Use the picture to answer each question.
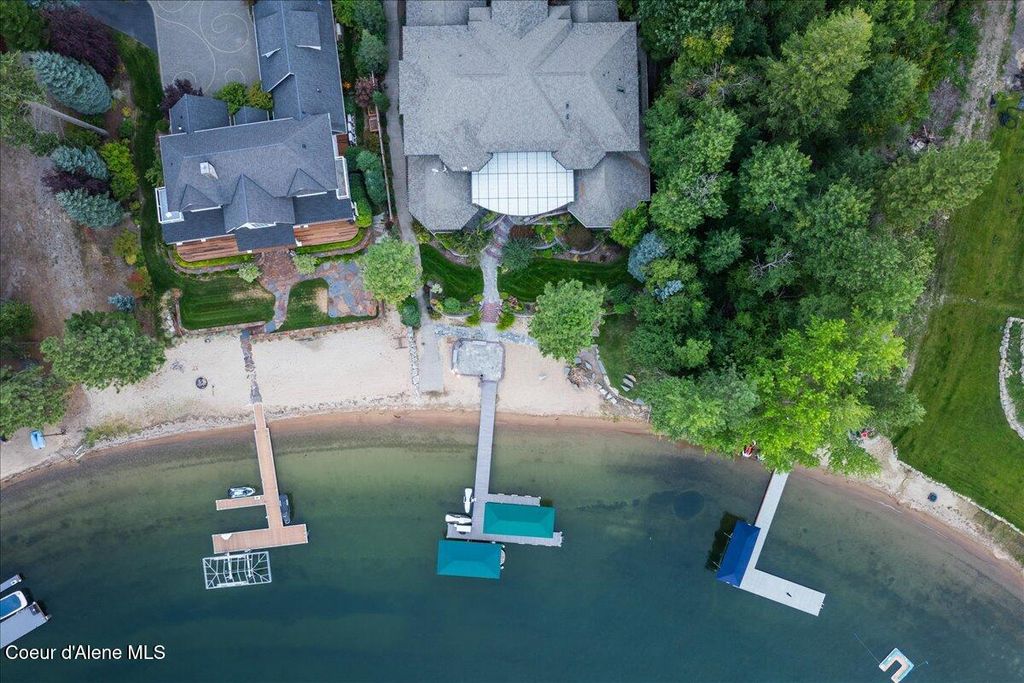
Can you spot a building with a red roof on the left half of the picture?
No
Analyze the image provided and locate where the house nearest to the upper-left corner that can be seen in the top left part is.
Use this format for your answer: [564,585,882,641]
[149,0,359,261]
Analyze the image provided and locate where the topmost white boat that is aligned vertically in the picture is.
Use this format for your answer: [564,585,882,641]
[460,487,473,515]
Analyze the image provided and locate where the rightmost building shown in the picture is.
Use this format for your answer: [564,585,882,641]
[399,0,651,233]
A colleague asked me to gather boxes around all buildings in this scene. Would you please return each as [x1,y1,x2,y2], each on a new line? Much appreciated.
[149,0,359,261]
[399,0,651,233]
